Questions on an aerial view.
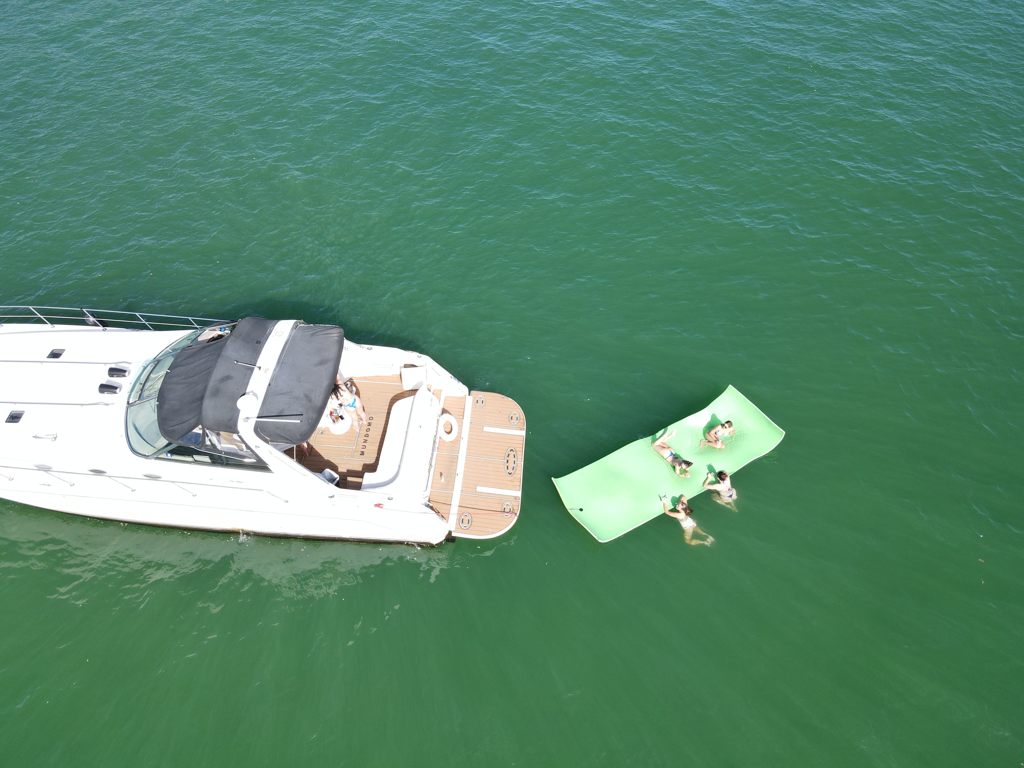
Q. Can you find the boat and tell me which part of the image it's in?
left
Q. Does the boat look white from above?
Yes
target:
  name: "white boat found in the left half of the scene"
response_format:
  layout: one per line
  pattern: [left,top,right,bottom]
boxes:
[0,306,527,550]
